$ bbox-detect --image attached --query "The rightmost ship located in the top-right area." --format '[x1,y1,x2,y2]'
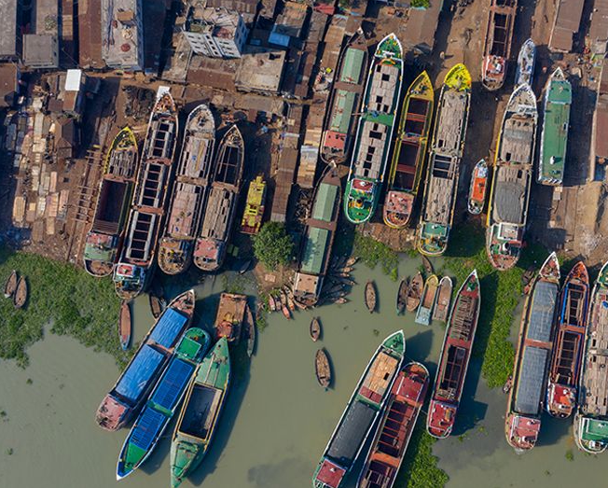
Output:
[536,66,569,185]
